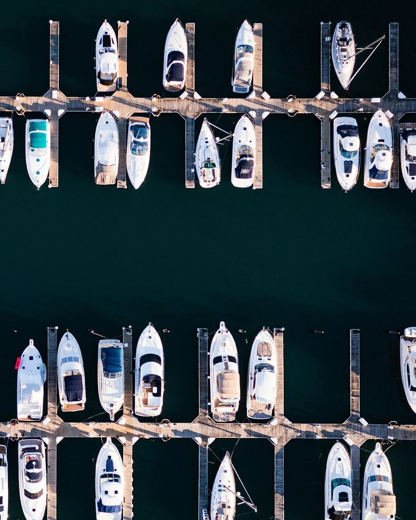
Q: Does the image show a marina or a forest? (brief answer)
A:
marina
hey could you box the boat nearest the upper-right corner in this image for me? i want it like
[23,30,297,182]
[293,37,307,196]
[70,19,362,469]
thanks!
[332,21,387,91]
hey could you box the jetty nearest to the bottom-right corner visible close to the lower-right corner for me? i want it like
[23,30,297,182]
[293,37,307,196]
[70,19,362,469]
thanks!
[343,439,369,520]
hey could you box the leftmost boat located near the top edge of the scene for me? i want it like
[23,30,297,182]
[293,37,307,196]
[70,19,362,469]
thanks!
[95,20,117,92]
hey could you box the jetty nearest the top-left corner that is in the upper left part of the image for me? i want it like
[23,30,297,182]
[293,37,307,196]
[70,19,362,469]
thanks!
[42,19,68,96]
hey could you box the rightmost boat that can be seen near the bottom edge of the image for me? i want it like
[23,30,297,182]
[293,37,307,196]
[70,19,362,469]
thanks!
[359,442,396,520]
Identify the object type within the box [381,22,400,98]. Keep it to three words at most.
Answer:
pier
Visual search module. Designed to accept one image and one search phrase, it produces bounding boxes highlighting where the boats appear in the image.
[231,113,257,187]
[126,116,150,190]
[17,339,45,421]
[97,339,125,422]
[163,18,189,92]
[404,327,416,337]
[322,442,353,520]
[135,322,165,415]
[359,442,396,520]
[0,117,15,184]
[232,18,256,93]
[331,117,360,193]
[332,21,387,91]
[397,122,416,191]
[392,336,416,413]
[245,329,278,419]
[95,111,119,184]
[95,20,117,92]
[0,445,8,520]
[94,436,124,520]
[195,116,233,188]
[57,330,86,411]
[209,321,240,422]
[25,119,51,188]
[211,452,257,520]
[19,439,47,520]
[363,107,395,189]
